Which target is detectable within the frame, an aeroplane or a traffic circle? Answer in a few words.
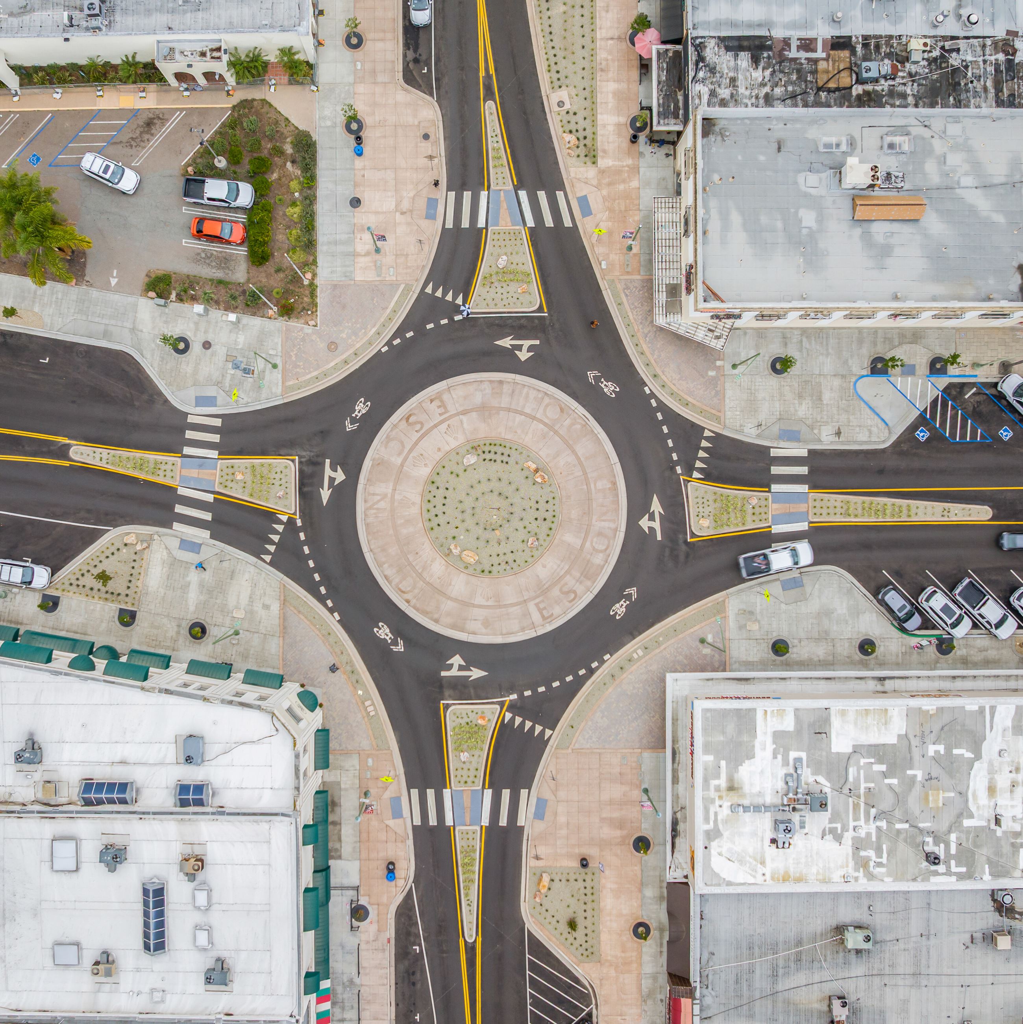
traffic circle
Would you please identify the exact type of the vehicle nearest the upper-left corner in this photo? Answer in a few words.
automobile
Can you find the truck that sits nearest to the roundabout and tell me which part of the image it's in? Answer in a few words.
right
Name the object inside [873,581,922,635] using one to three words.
car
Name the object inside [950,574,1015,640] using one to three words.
truck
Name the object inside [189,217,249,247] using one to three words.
car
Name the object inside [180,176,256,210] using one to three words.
truck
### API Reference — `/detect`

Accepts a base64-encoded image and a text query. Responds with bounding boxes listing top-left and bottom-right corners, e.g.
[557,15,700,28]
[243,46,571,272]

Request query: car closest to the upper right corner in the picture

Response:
[998,376,1023,424]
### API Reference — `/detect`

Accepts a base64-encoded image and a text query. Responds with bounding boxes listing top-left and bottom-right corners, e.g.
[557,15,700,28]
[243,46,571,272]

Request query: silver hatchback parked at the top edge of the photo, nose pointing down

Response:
[406,0,435,30]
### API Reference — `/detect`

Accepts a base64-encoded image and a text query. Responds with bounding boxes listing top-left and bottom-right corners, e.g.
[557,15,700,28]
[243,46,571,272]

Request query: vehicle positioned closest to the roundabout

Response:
[733,541,815,582]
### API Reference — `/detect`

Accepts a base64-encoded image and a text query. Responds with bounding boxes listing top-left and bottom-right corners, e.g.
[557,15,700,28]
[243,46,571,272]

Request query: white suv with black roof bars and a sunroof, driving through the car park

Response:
[77,148,142,197]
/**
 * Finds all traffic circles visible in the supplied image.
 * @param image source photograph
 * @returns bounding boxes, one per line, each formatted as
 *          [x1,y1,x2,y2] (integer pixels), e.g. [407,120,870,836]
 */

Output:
[296,315,682,703]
